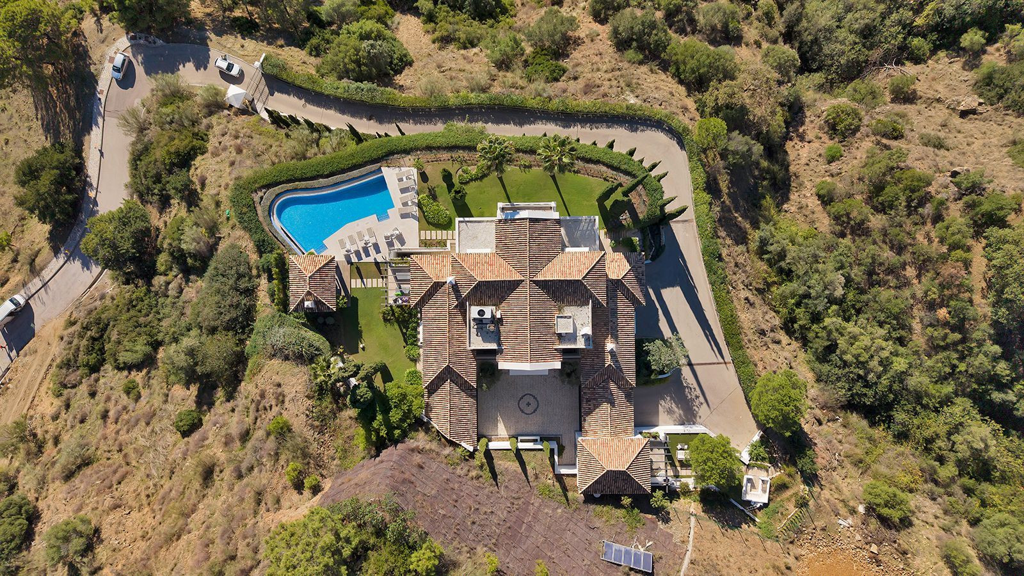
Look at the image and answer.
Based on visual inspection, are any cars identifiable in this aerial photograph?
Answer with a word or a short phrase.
Yes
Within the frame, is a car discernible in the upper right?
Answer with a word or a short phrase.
No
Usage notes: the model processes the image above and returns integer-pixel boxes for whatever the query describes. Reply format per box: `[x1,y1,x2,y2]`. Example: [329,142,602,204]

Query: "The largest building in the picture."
[409,199,652,495]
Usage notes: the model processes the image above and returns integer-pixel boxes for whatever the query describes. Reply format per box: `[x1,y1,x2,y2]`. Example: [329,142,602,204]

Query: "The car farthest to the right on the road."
[209,51,246,79]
